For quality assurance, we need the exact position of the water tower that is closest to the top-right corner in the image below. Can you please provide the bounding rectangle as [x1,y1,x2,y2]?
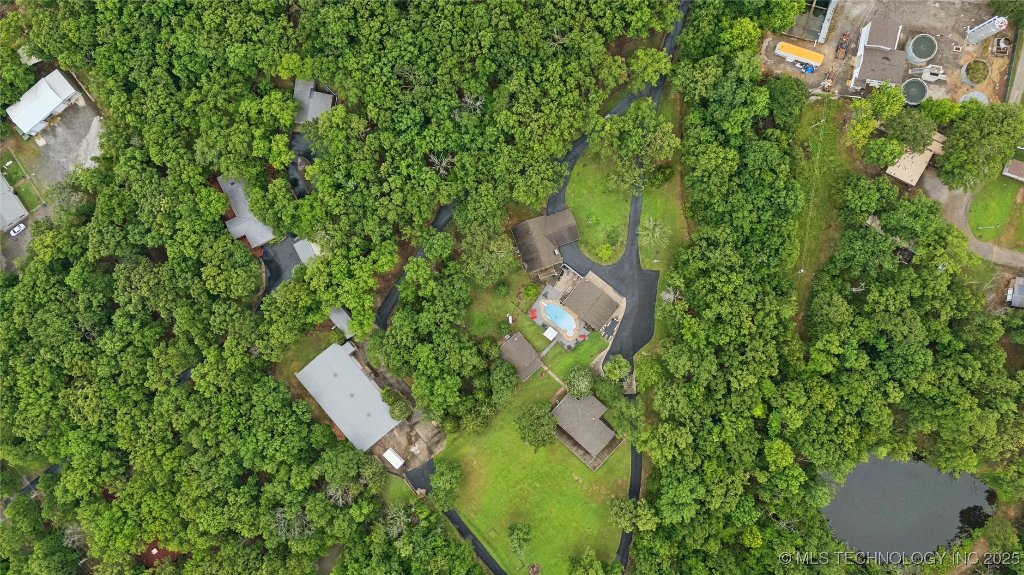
[963,15,1008,47]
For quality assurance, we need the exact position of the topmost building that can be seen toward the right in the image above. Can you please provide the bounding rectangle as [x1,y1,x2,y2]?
[850,18,907,90]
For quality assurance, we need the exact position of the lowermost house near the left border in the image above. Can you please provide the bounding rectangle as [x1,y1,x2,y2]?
[0,169,30,231]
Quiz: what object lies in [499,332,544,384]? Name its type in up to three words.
building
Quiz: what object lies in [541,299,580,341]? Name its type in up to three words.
swimming pool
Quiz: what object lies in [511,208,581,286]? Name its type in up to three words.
house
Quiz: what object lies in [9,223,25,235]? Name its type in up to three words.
vehicle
